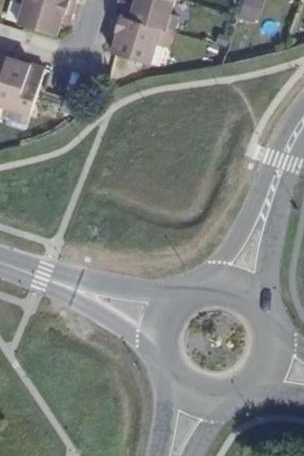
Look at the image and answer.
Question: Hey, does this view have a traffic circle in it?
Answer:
Yes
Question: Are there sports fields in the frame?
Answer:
No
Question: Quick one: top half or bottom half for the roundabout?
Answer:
bottom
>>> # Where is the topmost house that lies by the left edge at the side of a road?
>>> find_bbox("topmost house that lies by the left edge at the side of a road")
[10,0,76,36]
